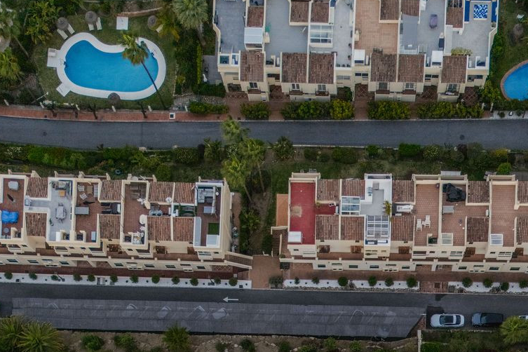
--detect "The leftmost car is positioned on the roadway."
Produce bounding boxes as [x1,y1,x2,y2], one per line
[428,311,466,328]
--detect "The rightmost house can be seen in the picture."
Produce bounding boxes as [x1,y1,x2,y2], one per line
[478,179,528,280]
